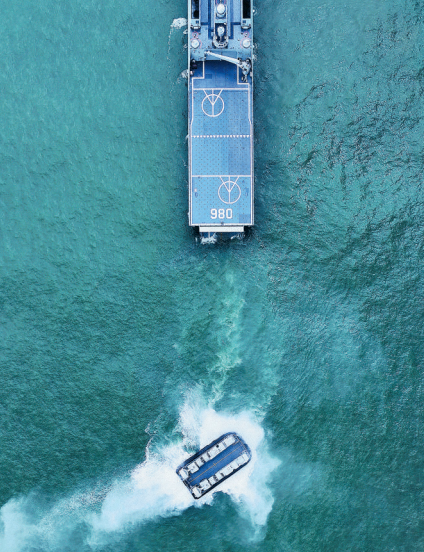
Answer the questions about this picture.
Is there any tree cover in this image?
No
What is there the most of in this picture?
water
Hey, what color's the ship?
blue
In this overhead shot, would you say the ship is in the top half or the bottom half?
top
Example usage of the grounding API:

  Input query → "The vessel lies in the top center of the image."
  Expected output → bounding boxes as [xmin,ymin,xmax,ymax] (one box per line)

[189,0,254,237]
